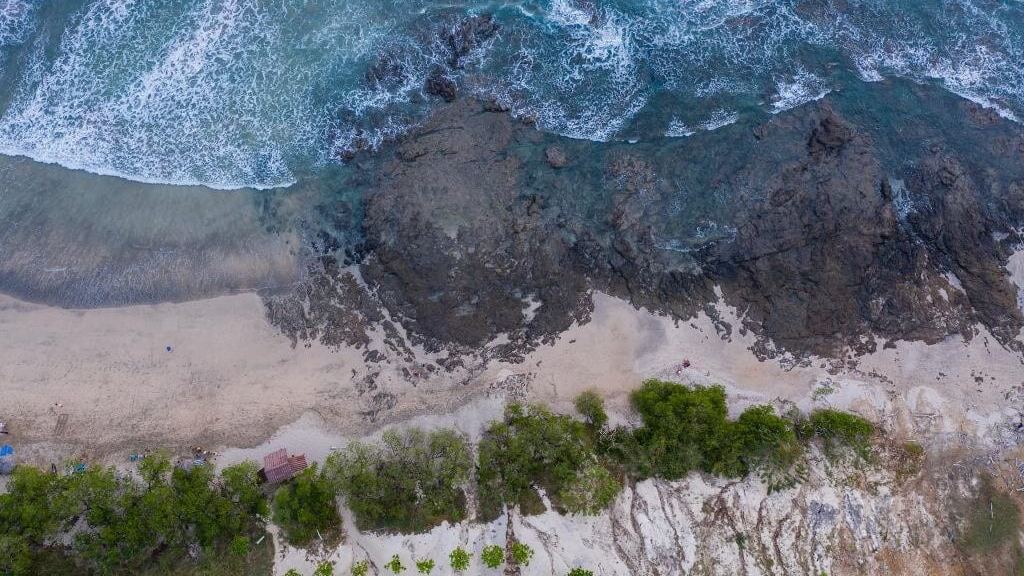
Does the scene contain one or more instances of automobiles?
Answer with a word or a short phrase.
No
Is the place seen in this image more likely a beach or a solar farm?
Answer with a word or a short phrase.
beach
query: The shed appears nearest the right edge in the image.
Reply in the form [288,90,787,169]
[261,447,308,484]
